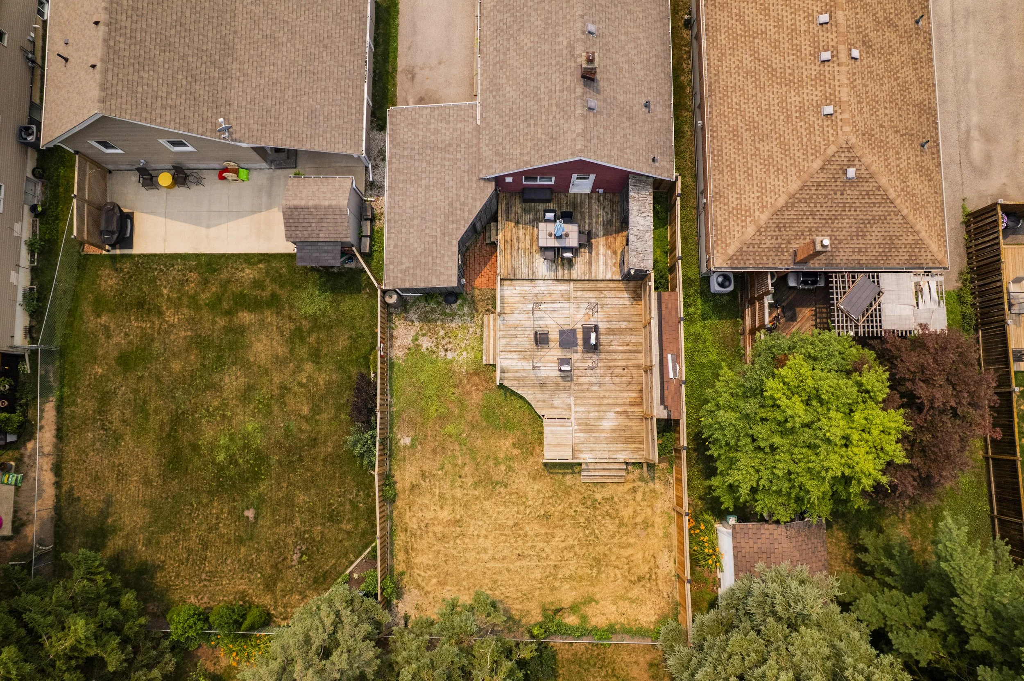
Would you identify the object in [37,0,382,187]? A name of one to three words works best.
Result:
house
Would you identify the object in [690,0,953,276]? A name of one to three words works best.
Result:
house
